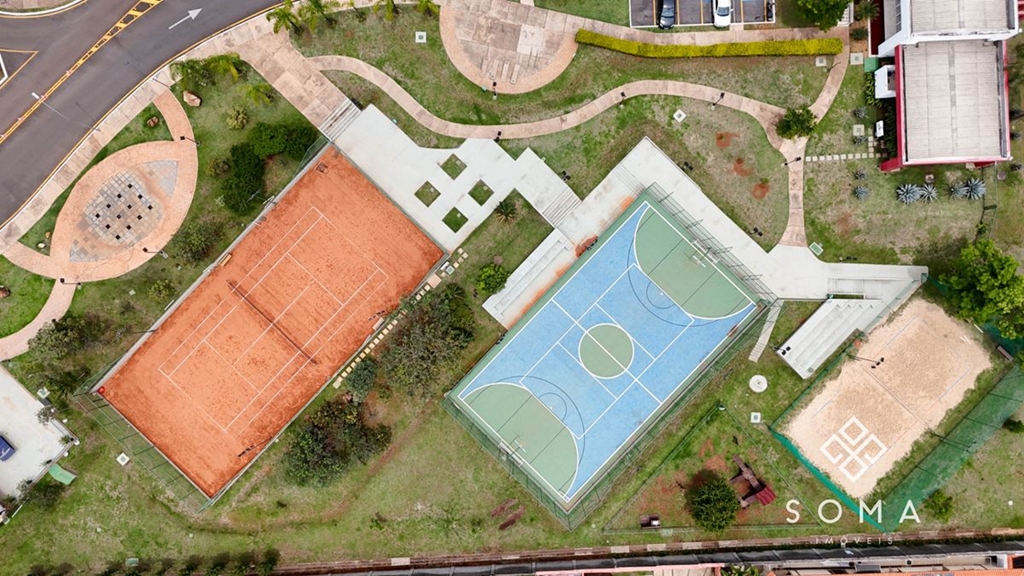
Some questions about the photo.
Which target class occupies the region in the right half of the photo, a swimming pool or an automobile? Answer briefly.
automobile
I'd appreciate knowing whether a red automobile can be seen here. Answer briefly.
No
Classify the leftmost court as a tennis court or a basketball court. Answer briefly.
tennis court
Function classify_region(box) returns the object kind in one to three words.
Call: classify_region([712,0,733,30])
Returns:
car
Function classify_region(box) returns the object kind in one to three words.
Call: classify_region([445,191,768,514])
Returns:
sports court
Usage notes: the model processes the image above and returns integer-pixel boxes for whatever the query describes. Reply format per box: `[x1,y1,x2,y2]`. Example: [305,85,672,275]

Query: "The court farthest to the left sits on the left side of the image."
[92,141,450,503]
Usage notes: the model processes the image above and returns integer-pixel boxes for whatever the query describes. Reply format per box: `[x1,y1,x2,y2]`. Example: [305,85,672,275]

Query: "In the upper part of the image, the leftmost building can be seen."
[881,0,1019,172]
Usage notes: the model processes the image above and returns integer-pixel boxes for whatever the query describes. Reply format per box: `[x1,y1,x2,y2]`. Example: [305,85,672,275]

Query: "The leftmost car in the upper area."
[658,0,679,30]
